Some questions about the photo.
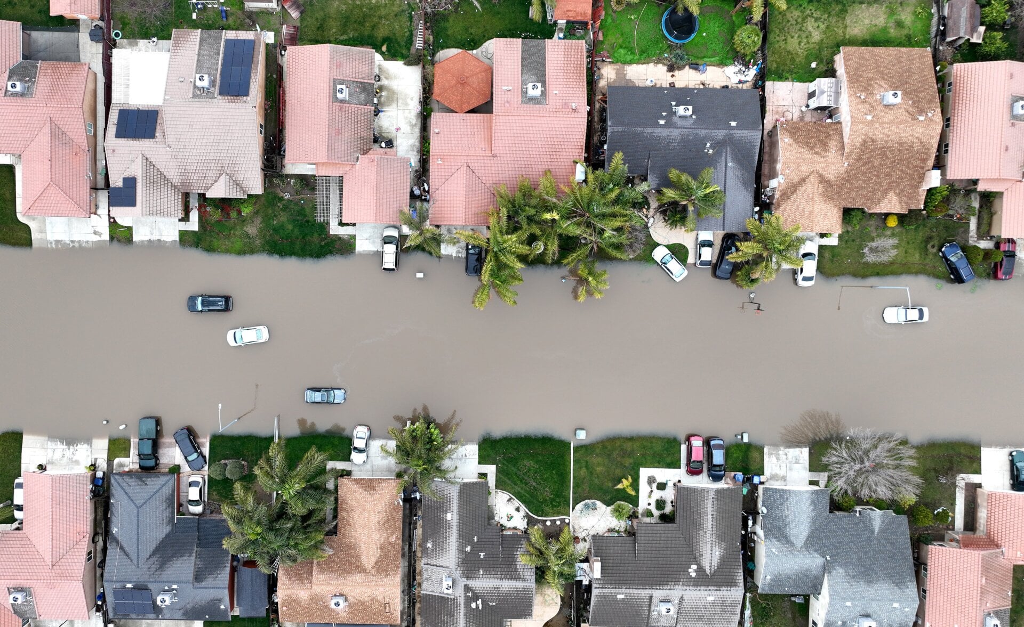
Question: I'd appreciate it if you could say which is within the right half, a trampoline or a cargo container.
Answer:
trampoline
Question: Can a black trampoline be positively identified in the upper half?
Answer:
Yes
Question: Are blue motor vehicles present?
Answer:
Yes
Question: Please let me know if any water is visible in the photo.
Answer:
Yes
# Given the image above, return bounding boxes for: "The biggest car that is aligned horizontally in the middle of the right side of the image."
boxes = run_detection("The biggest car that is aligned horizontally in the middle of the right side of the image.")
[880,305,928,326]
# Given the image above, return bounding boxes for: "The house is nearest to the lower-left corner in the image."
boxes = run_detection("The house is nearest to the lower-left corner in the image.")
[0,469,97,627]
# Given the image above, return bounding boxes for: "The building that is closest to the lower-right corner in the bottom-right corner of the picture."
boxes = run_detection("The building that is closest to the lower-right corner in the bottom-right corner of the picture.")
[918,486,1024,627]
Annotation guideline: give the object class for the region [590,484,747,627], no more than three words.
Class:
house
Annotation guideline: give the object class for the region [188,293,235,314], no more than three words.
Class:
car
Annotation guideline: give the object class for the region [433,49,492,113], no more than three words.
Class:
gazebo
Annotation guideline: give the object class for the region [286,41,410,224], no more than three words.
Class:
house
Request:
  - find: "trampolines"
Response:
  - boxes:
[662,2,701,44]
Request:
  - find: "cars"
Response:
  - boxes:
[1007,449,1024,489]
[991,237,1016,282]
[940,241,977,286]
[227,325,272,346]
[707,436,728,481]
[174,425,207,471]
[695,231,715,270]
[685,433,706,475]
[188,293,235,314]
[463,234,483,278]
[795,239,819,287]
[650,245,690,284]
[185,472,207,516]
[880,305,928,326]
[305,386,348,406]
[350,422,372,465]
[712,233,738,281]
[12,475,23,520]
[380,227,401,272]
